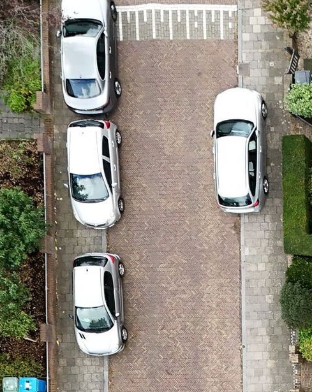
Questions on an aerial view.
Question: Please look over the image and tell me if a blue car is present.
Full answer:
No, I can see no blue car in this picture.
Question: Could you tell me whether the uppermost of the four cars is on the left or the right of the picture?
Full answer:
You can find the uppermost of the four cars on the left side of the picture.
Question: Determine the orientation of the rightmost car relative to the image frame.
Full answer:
The rightmost car is oriented from top to bottom.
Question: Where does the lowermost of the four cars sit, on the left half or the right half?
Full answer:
The lowermost of the four cars appears in the left half of the scene.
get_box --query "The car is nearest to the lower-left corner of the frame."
[67,245,131,361]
